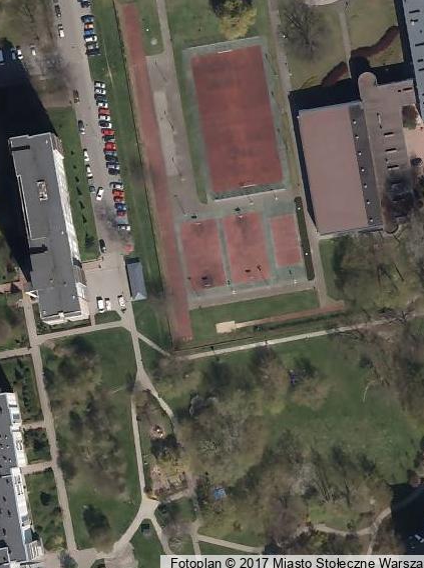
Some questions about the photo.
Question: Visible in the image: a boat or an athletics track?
athletics track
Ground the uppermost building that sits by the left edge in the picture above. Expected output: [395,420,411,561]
[0,132,89,327]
